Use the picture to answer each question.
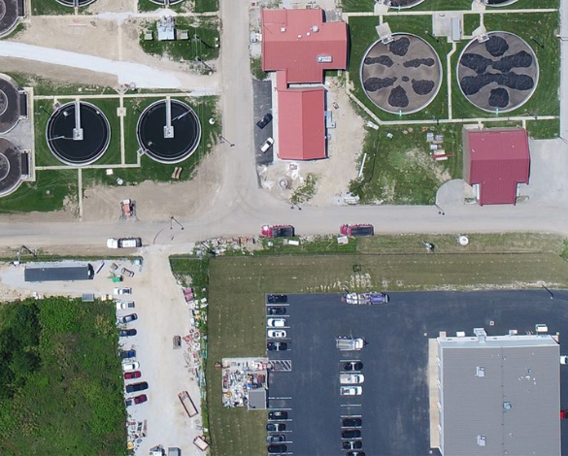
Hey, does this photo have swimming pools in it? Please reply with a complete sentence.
No, no swimming pool is visible in the scene.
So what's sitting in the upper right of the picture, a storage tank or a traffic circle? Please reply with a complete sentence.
There is a storage tank in the upper right of the picture.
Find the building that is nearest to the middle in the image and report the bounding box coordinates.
[277,87,327,163]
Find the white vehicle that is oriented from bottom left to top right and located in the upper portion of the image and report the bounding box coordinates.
[259,136,275,153]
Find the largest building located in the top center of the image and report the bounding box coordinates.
[261,8,349,84]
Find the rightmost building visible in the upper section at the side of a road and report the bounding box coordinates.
[465,126,531,206]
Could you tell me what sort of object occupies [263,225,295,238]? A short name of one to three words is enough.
vehicle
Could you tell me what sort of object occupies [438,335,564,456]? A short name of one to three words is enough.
warehouse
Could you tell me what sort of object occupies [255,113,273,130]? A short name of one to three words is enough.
vehicle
